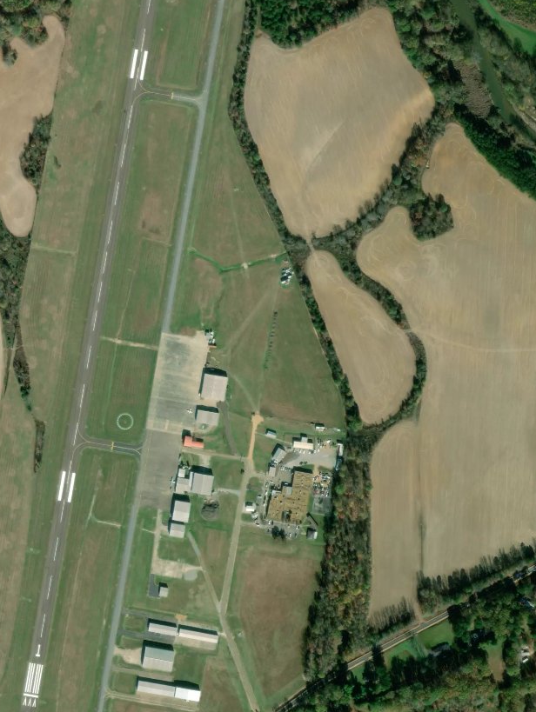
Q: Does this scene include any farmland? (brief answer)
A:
Yes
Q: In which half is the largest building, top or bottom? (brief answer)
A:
bottom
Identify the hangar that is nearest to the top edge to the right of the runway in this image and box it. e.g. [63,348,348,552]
[201,374,228,401]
